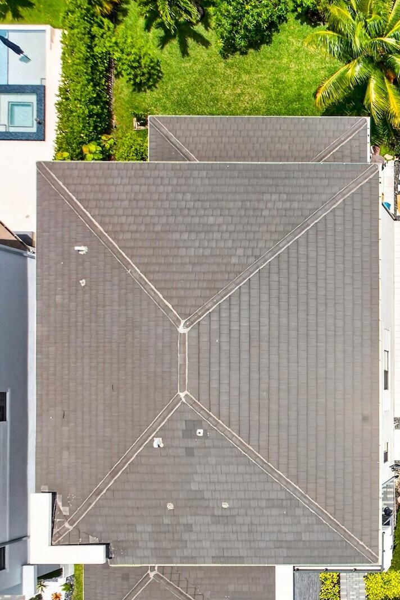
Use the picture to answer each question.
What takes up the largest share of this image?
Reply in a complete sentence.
For the most part, this view shows buildings.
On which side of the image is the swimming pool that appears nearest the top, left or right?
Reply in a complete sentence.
The swimming pool that appears nearest the top is on the left side of the image.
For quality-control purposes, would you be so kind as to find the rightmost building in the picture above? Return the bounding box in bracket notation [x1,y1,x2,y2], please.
[29,113,398,600]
